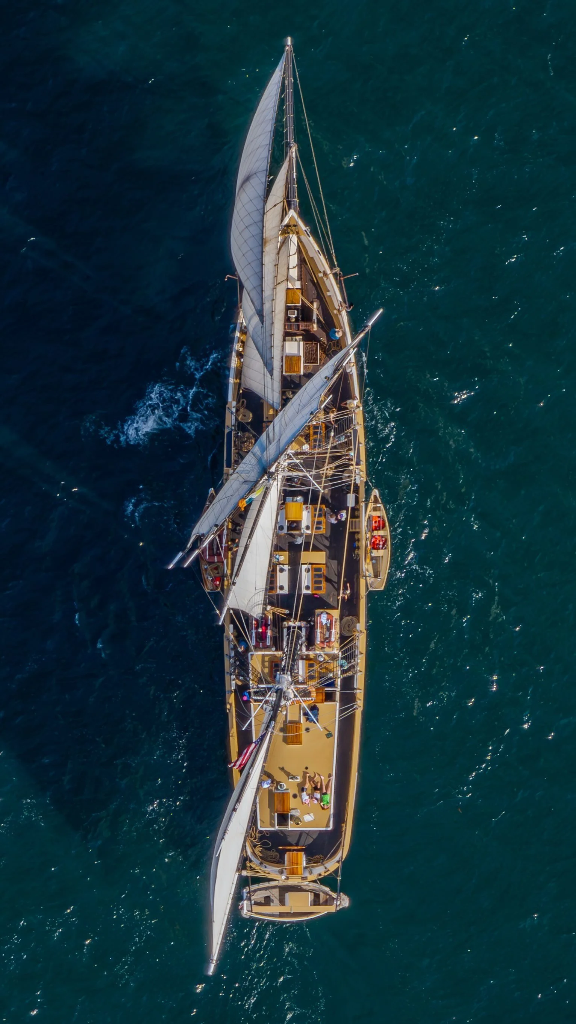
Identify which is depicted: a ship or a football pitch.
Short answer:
ship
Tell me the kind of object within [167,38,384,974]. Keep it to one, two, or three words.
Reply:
ship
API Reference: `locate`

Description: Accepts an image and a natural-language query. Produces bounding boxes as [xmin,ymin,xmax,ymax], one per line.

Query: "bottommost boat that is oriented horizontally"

[238,881,337,921]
